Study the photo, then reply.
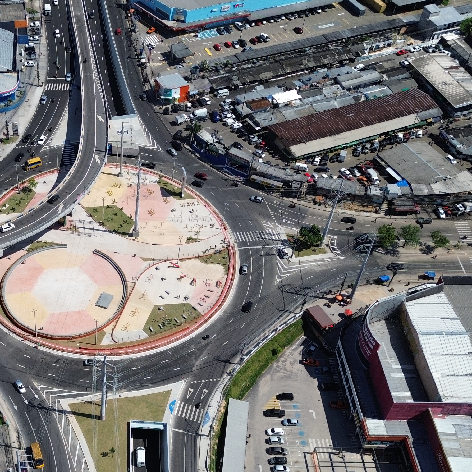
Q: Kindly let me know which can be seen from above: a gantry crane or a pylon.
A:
pylon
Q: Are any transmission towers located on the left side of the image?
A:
Yes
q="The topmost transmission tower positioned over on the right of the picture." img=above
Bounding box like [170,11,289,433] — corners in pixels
[318,176,353,249]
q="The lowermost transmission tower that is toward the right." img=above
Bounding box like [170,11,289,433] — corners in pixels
[347,230,387,302]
